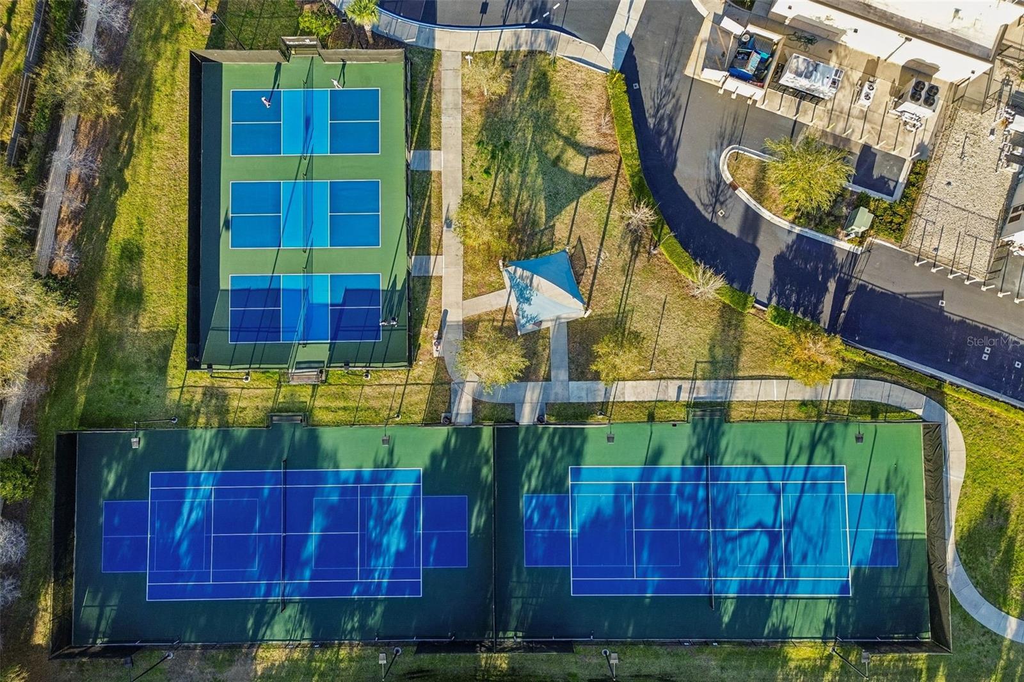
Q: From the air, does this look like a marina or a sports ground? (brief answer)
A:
sports ground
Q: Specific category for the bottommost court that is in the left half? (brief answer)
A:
tennis court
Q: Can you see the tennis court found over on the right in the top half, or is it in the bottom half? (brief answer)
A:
bottom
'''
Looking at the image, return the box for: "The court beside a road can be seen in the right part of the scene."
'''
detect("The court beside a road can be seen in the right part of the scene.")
[494,410,929,640]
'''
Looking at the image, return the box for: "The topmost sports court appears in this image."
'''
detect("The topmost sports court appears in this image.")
[203,56,406,167]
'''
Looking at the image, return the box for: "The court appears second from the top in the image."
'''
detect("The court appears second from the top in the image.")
[203,166,407,262]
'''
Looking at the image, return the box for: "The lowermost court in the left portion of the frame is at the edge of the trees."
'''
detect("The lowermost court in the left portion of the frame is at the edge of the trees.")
[74,415,494,643]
